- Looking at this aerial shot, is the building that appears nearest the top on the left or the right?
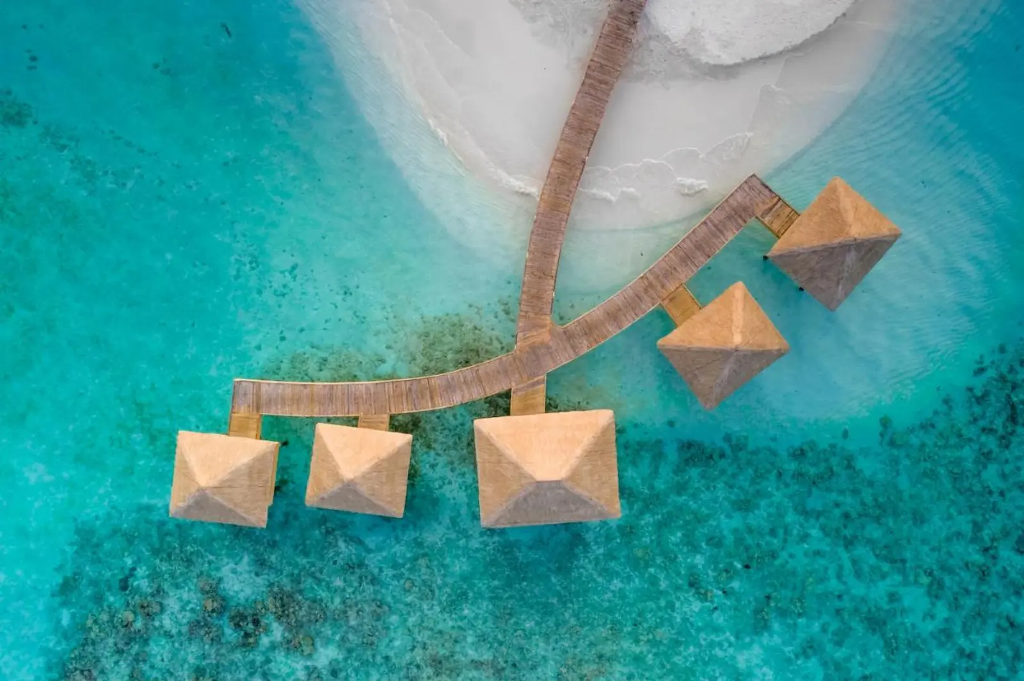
right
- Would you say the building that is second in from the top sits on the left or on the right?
right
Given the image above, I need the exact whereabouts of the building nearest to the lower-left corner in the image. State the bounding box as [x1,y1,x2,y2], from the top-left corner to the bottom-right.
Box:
[169,429,292,529]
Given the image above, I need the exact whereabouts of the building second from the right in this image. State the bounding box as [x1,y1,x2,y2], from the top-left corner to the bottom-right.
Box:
[656,282,791,410]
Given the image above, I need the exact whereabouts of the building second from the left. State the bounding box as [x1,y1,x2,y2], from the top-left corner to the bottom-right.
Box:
[306,422,415,519]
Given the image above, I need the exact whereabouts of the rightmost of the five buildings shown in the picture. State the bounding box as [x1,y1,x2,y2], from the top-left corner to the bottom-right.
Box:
[760,176,903,311]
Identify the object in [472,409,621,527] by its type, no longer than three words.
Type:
building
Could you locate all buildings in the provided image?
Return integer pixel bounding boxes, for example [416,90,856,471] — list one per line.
[306,422,415,519]
[472,409,621,527]
[656,282,791,410]
[760,176,903,311]
[169,429,292,529]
